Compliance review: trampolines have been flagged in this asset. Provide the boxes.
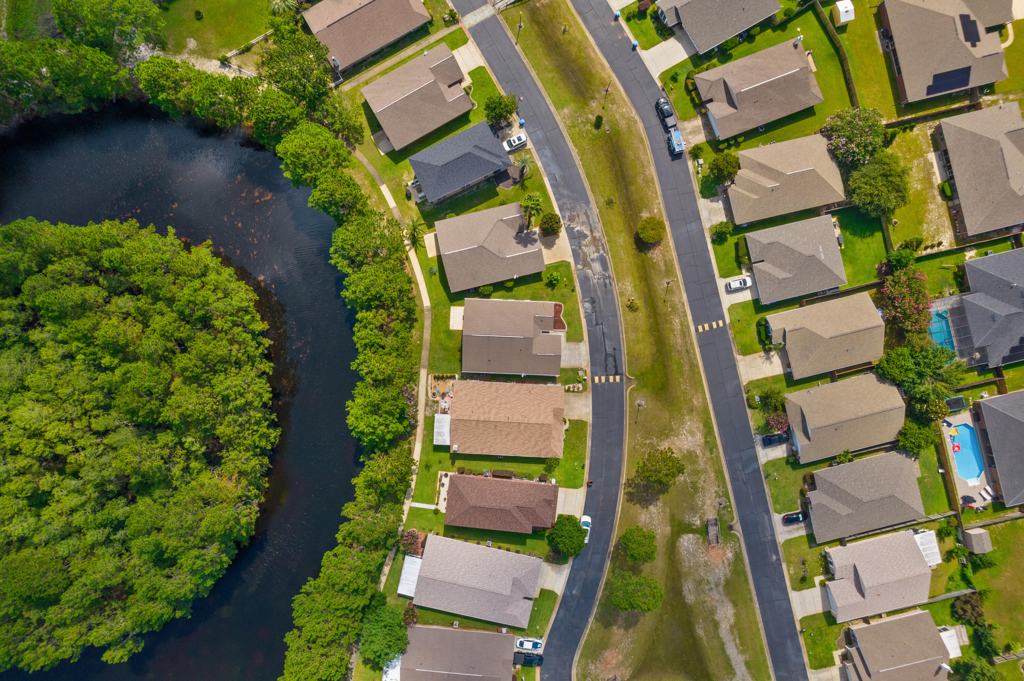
[946,395,972,412]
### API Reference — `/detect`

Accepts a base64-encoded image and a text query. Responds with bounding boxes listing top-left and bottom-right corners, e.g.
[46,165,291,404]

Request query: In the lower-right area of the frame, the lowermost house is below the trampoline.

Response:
[842,610,957,681]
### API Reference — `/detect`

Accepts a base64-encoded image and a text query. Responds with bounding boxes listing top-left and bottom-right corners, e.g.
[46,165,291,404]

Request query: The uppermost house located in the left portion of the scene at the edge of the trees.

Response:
[302,0,431,74]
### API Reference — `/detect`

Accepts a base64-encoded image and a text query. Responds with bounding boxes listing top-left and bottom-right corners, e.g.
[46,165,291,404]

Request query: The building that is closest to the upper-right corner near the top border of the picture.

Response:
[878,0,1015,104]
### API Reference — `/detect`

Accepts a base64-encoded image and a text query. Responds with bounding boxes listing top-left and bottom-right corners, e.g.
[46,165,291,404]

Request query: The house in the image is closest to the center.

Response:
[462,298,561,376]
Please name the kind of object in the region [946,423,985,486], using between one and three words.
swimming pool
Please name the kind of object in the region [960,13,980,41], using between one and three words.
solar panel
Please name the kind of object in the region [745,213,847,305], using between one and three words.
house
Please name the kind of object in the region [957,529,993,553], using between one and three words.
shed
